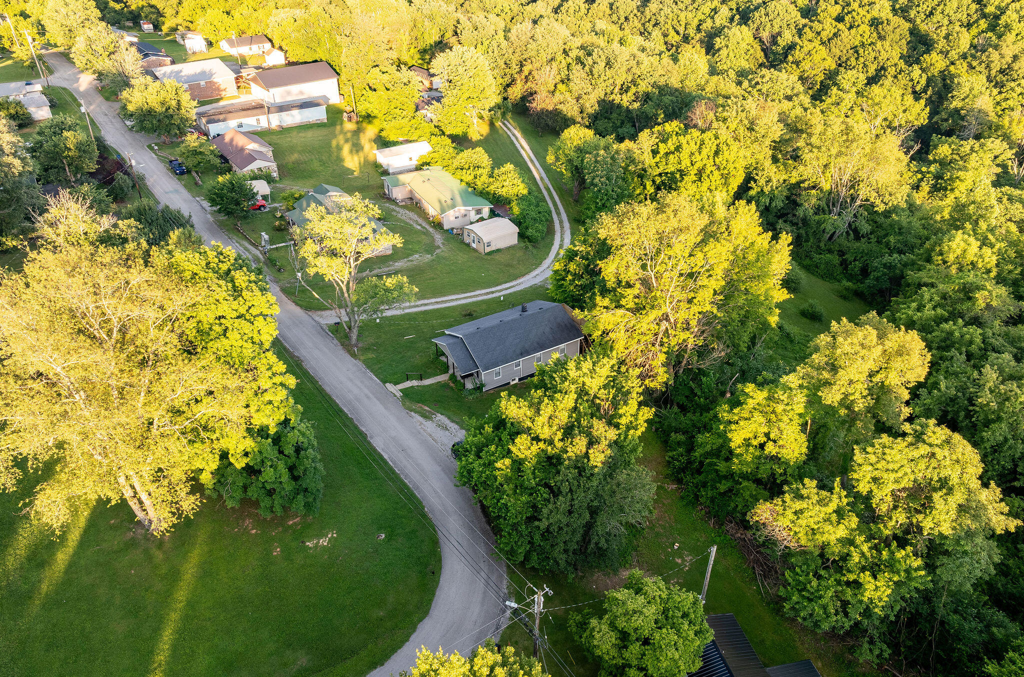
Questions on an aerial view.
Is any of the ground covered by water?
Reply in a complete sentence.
No, no water is visible.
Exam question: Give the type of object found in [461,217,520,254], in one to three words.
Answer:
building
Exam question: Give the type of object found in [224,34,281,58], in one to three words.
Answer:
house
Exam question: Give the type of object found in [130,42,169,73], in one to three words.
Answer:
house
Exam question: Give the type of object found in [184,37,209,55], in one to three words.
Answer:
shed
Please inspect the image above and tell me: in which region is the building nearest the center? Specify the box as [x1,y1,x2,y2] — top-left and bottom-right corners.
[428,300,585,392]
